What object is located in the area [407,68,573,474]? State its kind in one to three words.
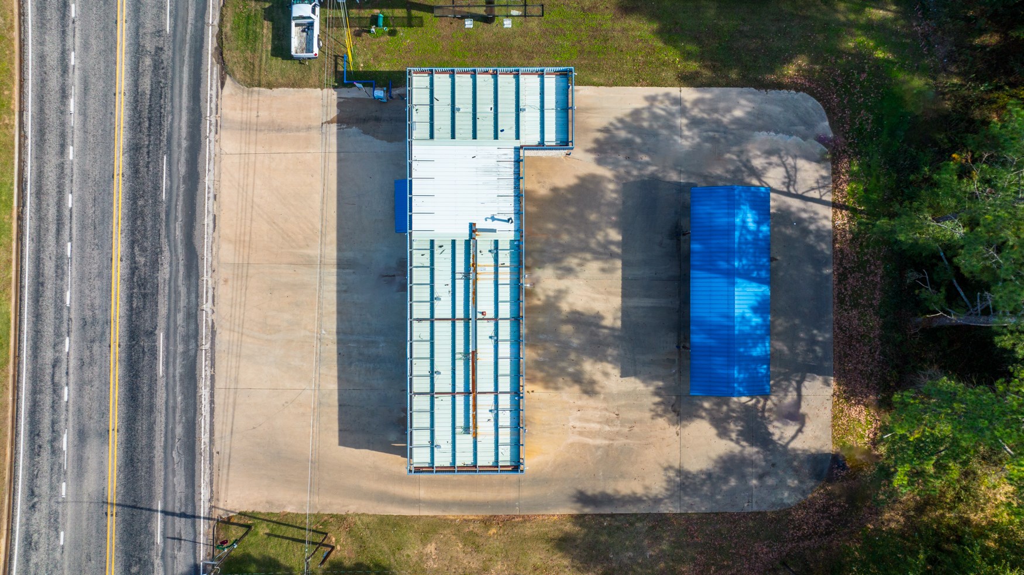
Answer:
building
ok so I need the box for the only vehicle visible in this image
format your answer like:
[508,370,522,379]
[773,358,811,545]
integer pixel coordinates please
[287,0,324,64]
